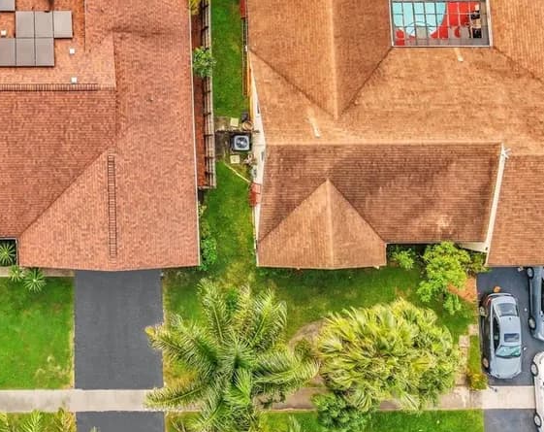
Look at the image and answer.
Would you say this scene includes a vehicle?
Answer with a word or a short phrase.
Yes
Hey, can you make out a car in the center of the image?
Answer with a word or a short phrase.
No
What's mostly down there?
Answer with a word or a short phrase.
buildings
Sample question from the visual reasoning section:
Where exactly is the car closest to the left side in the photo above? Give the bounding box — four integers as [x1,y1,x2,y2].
[472,289,528,380]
